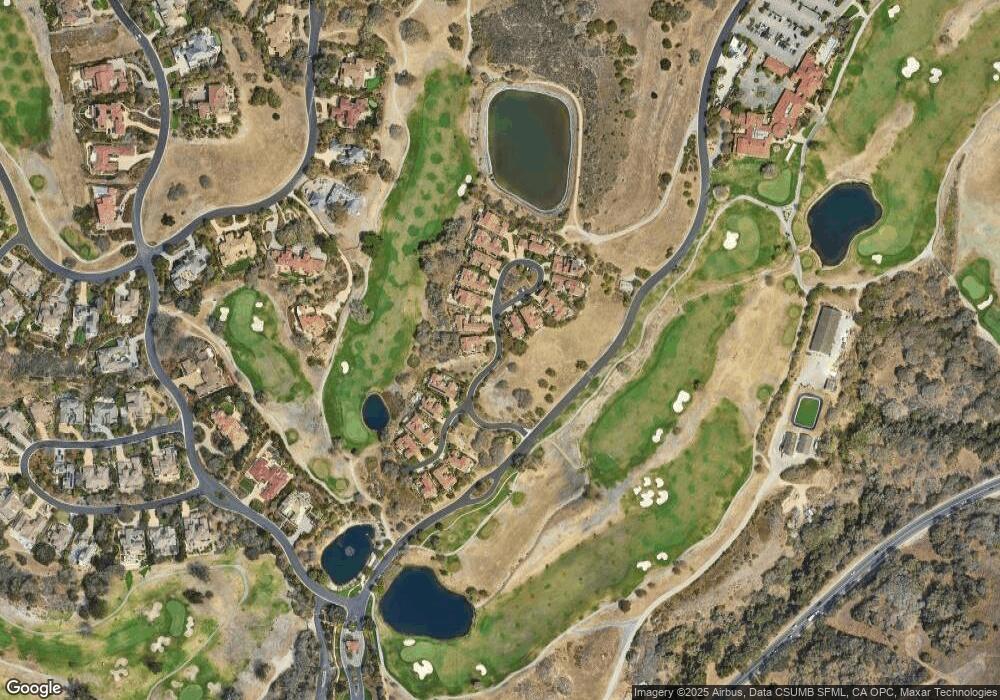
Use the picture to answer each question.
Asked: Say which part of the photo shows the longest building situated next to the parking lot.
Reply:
top right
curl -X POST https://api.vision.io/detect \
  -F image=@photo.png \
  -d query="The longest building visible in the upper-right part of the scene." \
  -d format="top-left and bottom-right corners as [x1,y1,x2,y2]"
[733,48,825,159]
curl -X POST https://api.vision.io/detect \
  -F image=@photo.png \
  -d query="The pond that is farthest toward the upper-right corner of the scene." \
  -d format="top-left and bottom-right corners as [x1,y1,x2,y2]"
[809,182,881,266]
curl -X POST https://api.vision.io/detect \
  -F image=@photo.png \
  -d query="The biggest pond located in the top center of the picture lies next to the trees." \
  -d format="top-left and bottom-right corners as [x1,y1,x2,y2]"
[487,90,570,210]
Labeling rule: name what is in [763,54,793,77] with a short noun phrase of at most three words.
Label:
building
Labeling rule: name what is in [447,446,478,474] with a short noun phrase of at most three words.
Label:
house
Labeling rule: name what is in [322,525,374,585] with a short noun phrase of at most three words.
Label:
pond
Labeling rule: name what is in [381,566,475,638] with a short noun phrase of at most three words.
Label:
pond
